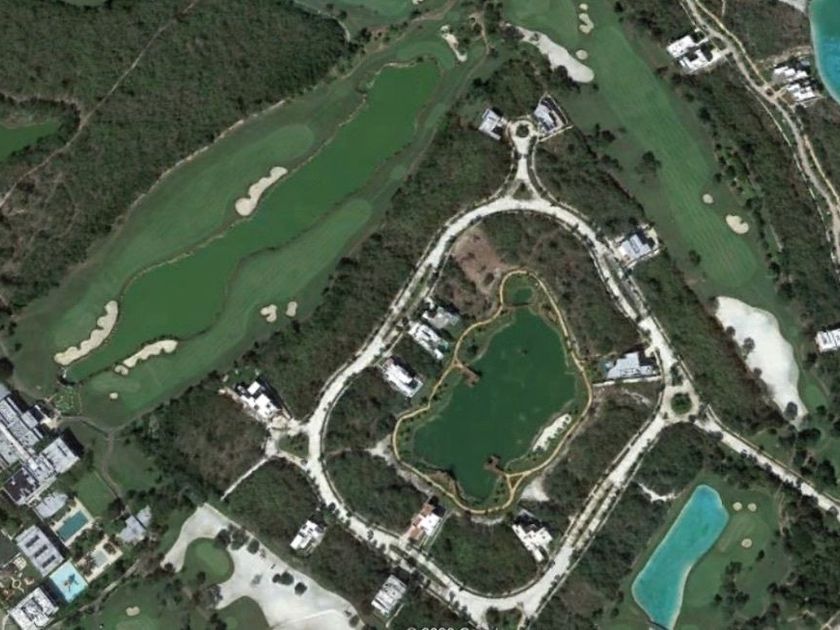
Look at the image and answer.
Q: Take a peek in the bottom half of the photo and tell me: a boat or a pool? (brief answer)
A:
pool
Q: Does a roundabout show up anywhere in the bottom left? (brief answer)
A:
No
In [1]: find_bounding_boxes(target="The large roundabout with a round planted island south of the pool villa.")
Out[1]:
[662,386,700,422]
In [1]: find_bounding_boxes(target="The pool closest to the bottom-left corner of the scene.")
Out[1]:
[50,562,88,603]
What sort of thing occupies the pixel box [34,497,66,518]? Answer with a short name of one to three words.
building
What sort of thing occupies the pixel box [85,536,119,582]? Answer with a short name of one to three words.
swimming pool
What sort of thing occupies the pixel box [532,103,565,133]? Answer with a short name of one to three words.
house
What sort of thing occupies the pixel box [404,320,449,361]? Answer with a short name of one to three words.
house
